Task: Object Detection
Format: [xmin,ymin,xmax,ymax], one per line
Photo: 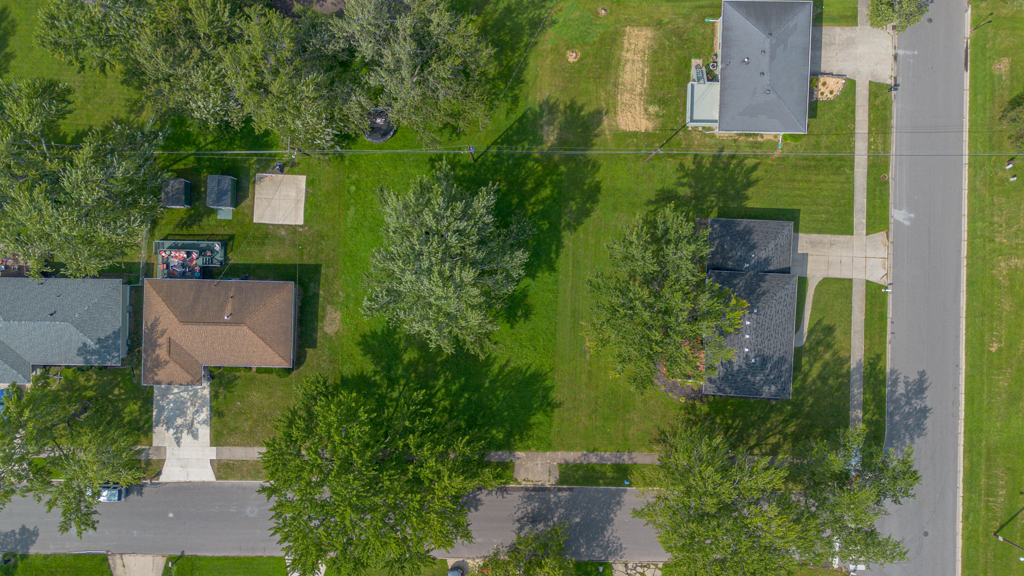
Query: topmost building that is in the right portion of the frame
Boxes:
[713,0,813,136]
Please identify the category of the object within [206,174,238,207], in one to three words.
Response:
shed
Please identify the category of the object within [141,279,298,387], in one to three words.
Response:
house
